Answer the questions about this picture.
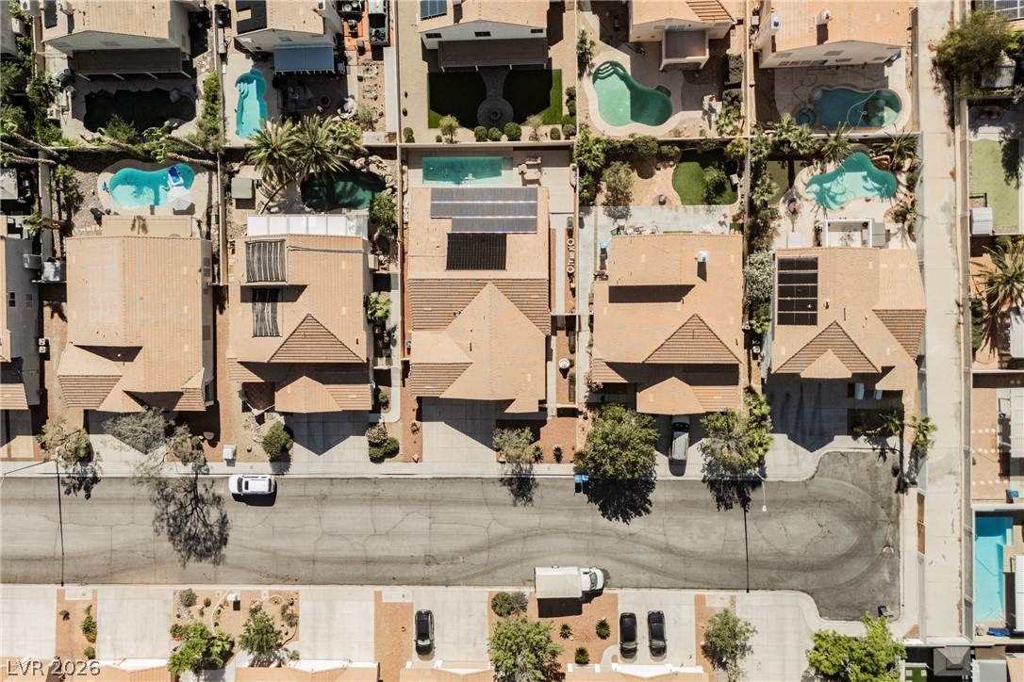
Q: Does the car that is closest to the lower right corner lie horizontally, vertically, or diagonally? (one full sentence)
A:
The car that is closest to the lower right corner has been laid out vertically relative to the frame.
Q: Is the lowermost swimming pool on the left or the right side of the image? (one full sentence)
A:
You can find the lowermost swimming pool on the right side of the picture.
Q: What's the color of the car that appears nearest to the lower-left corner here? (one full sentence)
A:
The car that appears nearest to the lower-left corner is white.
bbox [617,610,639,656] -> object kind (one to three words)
car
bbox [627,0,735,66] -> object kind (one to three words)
house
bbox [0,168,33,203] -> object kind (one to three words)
gazebo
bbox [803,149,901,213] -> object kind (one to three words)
swimming pool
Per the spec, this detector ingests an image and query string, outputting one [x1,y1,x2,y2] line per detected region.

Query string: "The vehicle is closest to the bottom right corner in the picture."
[646,609,668,655]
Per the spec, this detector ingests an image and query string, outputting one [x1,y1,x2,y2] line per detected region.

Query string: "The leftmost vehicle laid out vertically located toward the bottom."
[414,608,435,653]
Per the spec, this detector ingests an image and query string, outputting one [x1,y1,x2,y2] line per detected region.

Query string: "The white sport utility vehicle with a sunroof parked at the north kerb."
[230,474,277,496]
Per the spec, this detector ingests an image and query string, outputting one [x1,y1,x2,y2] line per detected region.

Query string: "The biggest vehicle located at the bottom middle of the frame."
[534,566,603,597]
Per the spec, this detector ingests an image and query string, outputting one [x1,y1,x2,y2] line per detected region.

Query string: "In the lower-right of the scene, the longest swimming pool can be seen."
[974,515,1017,624]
